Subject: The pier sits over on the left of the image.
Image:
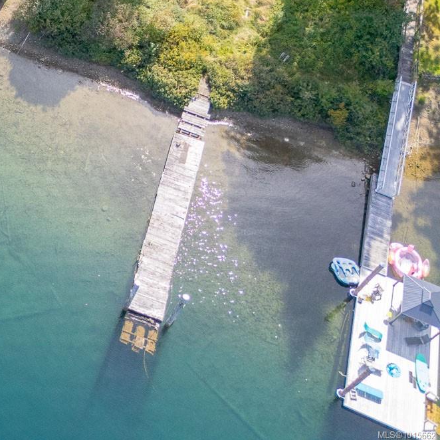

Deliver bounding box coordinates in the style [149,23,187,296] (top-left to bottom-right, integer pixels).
[128,80,214,331]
